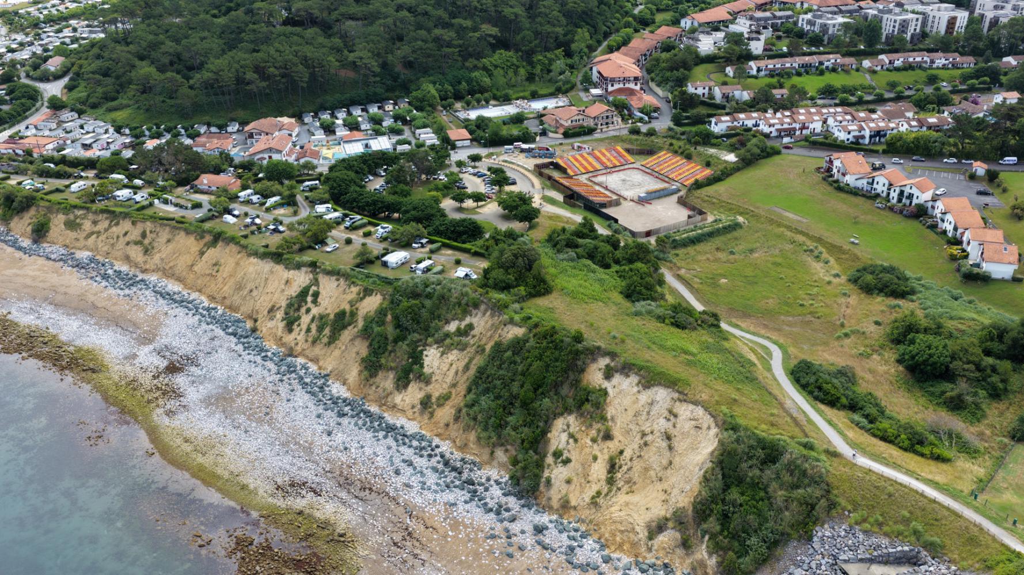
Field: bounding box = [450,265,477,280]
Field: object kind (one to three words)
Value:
camper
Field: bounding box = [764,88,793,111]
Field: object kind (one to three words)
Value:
house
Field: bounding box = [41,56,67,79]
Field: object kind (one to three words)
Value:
house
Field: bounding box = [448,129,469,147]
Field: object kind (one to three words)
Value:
building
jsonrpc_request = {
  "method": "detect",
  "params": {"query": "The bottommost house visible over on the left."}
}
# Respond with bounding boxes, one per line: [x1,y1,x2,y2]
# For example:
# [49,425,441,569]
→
[190,173,249,201]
